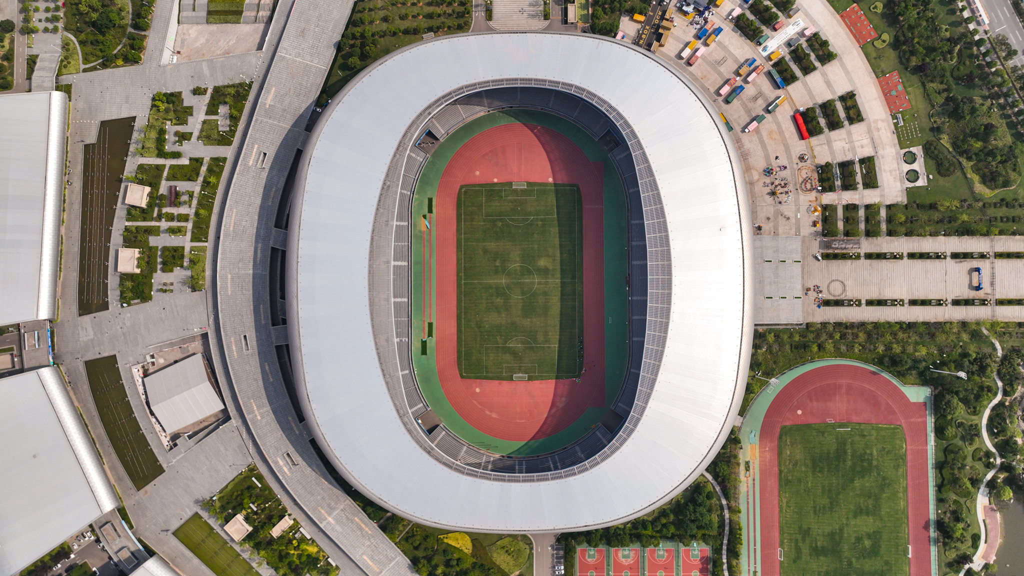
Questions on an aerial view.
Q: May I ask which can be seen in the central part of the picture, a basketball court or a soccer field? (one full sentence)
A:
There is a soccer field in the central part of the picture.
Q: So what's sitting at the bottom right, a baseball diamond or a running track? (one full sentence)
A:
You can see a running track at the bottom right.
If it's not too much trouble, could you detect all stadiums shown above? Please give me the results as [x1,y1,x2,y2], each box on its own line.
[285,27,756,536]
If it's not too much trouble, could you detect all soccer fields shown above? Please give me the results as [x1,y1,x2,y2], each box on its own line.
[457,183,584,381]
[779,423,910,576]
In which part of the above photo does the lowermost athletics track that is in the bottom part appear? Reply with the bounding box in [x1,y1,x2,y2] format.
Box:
[740,359,937,576]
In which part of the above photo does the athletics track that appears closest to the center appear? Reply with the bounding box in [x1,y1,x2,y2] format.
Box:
[412,108,628,457]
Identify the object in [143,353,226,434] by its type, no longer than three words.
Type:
building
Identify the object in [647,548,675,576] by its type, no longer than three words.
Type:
basketball court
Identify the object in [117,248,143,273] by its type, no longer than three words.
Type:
building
